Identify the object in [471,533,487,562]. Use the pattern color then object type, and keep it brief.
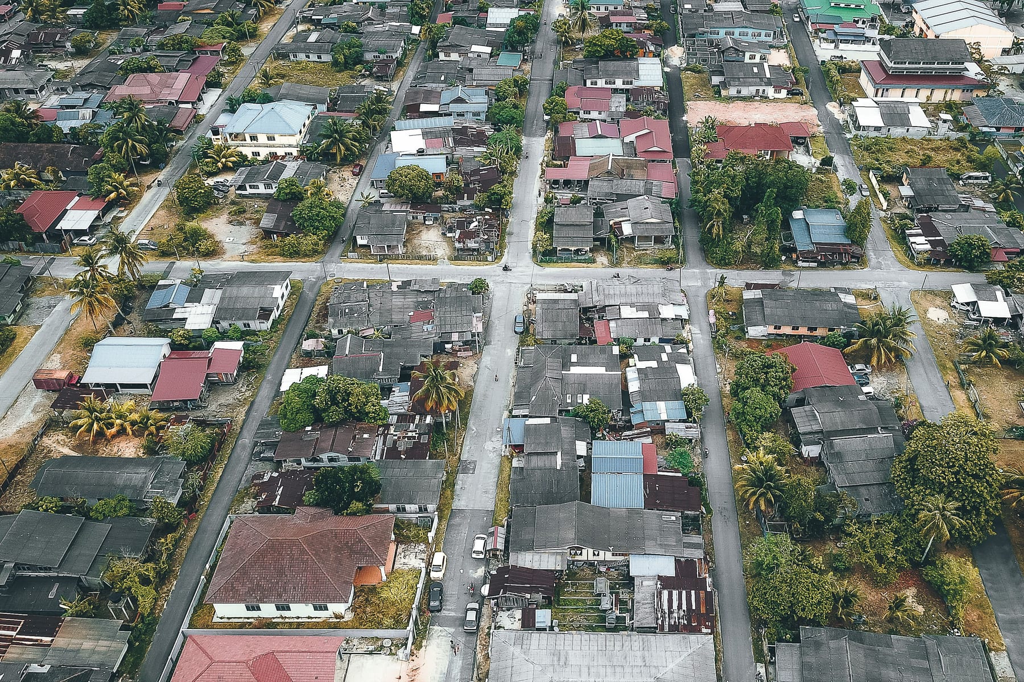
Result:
white car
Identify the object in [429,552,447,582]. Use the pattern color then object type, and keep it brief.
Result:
white car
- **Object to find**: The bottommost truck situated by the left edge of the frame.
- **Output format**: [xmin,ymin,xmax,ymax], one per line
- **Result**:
[23,366,86,396]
